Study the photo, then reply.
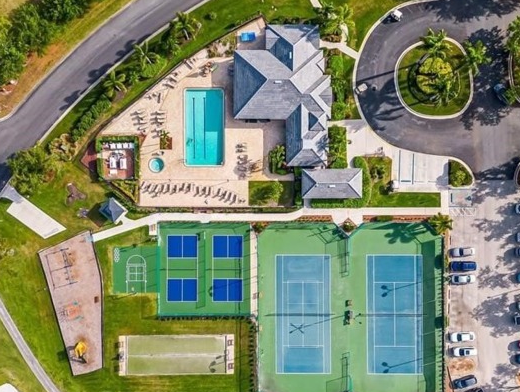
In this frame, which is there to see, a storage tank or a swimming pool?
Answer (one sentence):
The one in the frame is a swimming pool.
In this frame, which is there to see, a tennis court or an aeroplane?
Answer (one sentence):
The image shows a tennis court.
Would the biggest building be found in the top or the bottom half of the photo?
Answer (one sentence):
You can find the biggest building in the top half.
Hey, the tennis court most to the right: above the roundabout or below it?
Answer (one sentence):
The tennis court most to the right appears below the roundabout in the picture.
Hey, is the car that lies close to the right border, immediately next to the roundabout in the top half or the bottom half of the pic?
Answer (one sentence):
The car that lies close to the right border, immediately next to the roundabout is in the top half of the image.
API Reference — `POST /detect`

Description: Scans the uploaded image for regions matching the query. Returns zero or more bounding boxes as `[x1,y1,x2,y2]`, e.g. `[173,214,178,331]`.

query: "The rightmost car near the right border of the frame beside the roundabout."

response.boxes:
[490,81,510,106]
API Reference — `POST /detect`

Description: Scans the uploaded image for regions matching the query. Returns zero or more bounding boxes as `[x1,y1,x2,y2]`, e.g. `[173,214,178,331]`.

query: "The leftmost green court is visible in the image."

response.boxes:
[113,246,157,292]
